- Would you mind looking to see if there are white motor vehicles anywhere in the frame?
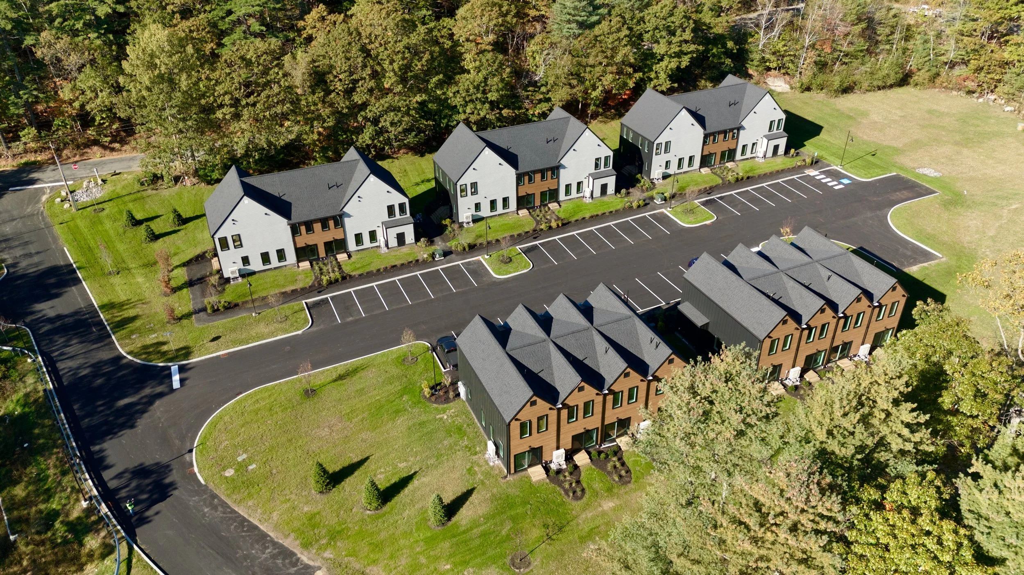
No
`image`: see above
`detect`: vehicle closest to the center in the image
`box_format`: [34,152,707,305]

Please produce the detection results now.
[433,325,459,364]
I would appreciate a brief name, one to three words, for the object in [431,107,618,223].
house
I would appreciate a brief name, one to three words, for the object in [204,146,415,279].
house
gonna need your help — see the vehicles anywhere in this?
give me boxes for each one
[433,325,459,364]
[687,257,699,268]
